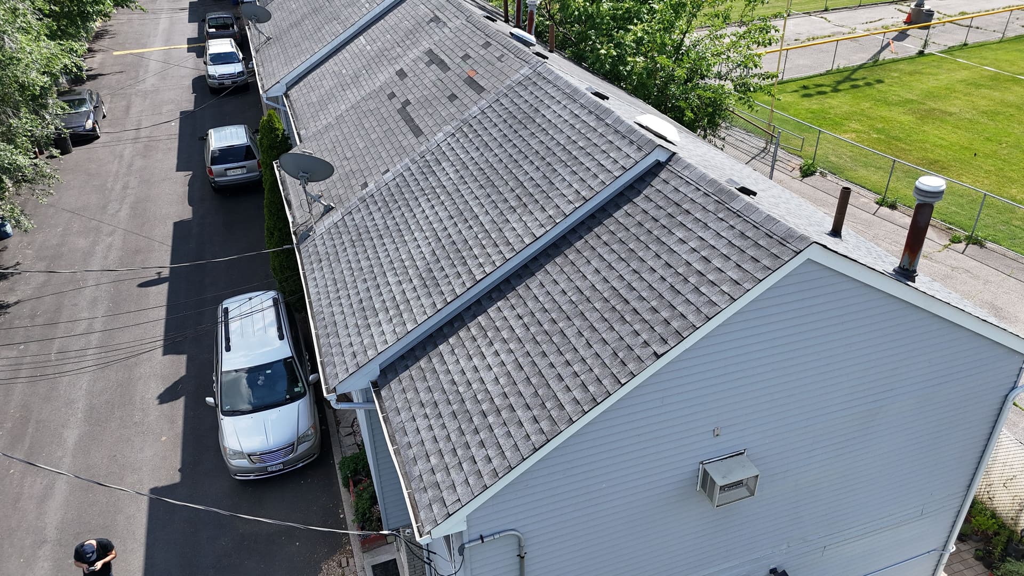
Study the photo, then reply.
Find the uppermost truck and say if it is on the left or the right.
left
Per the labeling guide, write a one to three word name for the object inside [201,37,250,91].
car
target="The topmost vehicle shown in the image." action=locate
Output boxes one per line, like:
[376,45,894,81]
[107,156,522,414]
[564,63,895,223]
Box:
[203,10,242,43]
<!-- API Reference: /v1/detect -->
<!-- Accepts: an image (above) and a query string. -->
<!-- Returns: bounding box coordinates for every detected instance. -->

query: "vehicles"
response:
[199,124,253,190]
[202,292,326,484]
[201,37,250,91]
[44,89,109,140]
[203,10,242,43]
